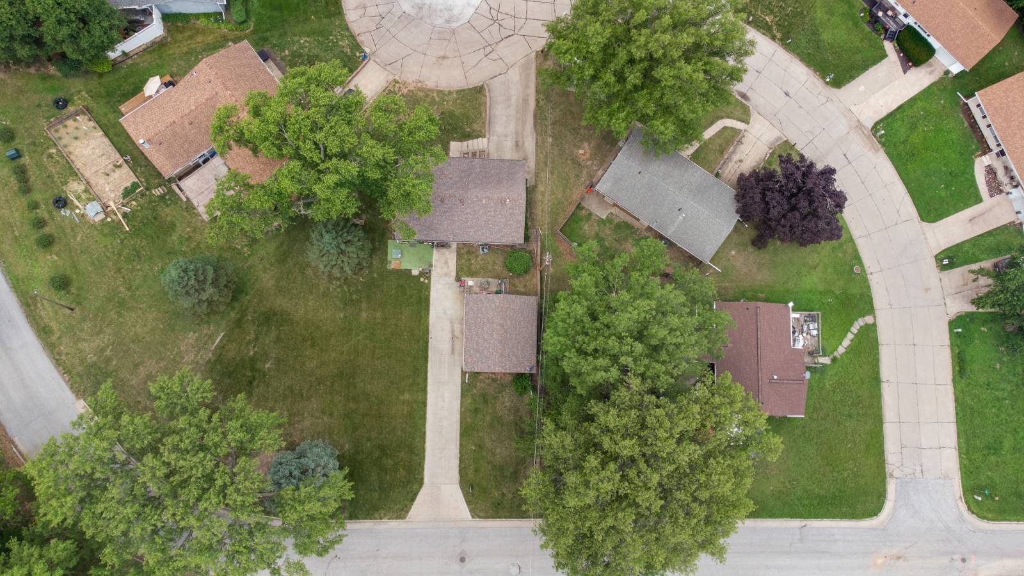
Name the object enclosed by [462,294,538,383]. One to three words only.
building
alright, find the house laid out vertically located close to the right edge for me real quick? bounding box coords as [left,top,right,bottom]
[957,70,1024,234]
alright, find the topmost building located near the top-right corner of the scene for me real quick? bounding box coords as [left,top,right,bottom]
[872,0,1023,76]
